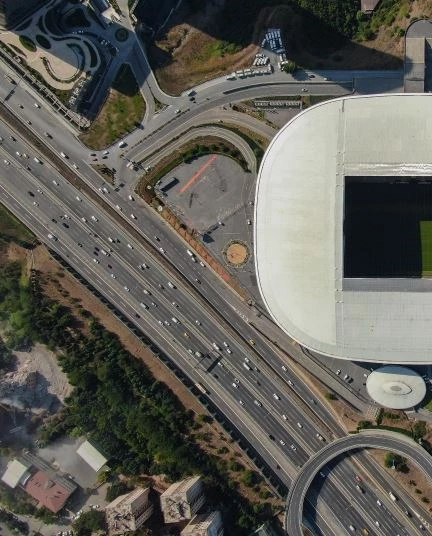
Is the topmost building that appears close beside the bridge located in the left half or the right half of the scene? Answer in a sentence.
The topmost building that appears close beside the bridge is on the right side of the image.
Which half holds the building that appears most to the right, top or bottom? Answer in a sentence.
You can find the building that appears most to the right in the top half.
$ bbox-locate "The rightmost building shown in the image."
[404,20,432,93]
